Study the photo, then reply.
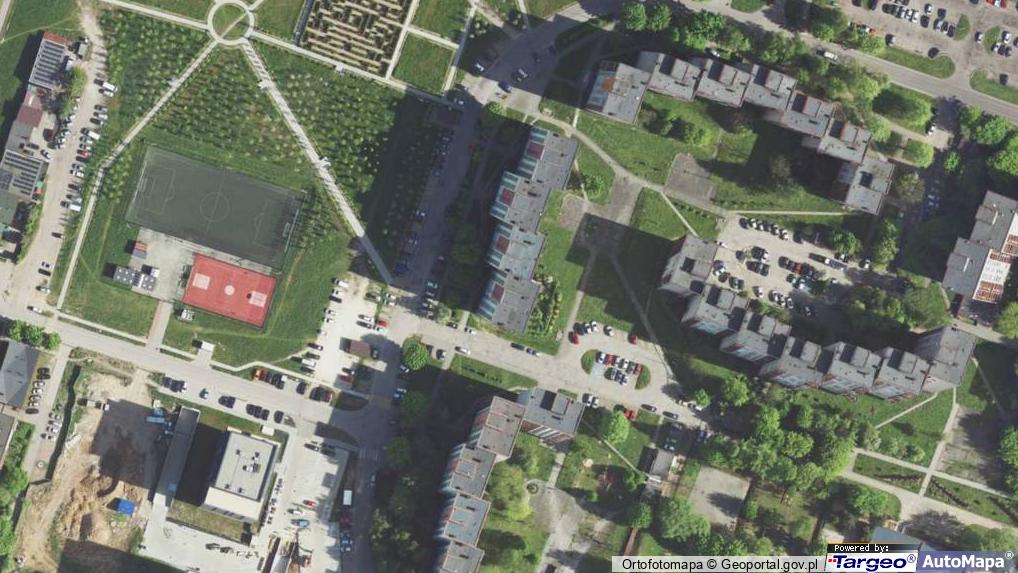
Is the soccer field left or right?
left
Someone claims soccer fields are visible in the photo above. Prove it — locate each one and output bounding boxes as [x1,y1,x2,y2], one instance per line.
[126,146,306,270]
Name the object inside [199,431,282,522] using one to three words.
building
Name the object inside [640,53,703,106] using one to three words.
building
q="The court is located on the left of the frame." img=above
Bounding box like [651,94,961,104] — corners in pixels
[181,253,280,327]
